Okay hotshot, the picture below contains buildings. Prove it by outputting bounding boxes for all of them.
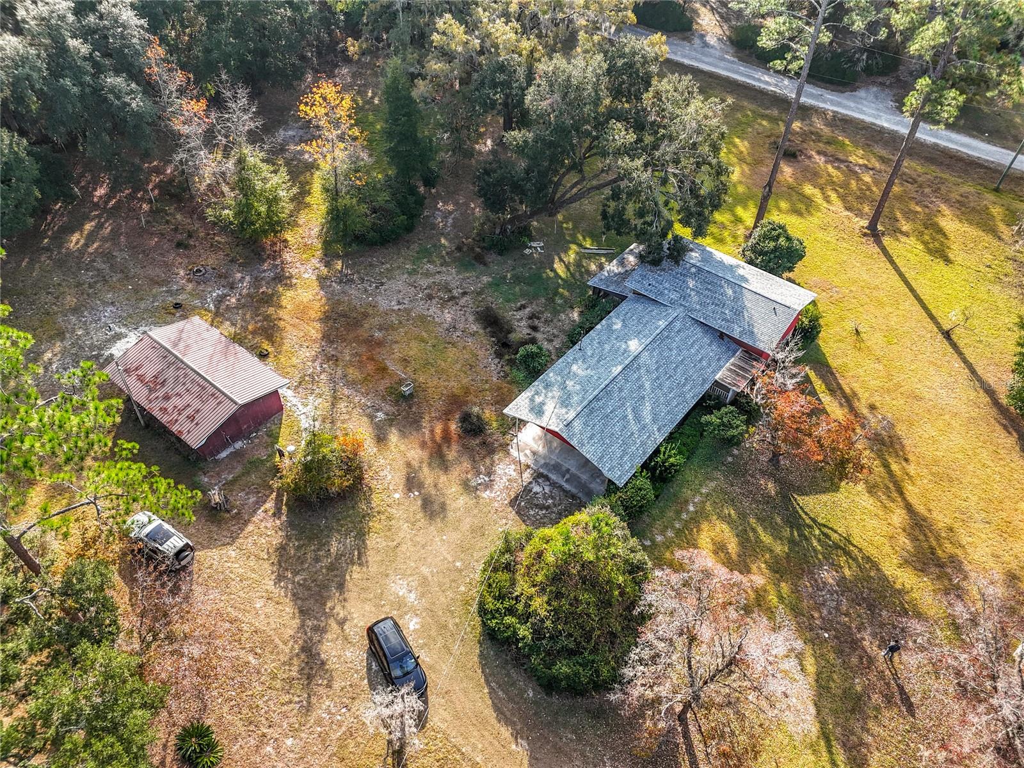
[500,235,820,513]
[101,316,292,464]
